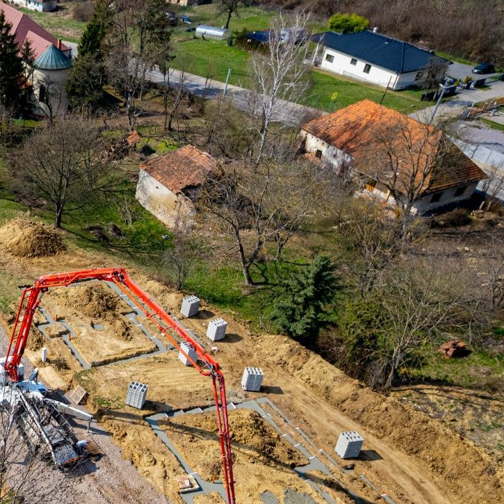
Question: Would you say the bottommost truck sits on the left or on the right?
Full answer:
The bottommost truck appears in the left half of the scene.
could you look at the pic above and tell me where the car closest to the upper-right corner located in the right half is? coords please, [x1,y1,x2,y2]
[469,61,501,73]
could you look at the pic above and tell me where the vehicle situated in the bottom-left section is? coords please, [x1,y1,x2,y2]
[0,266,238,504]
